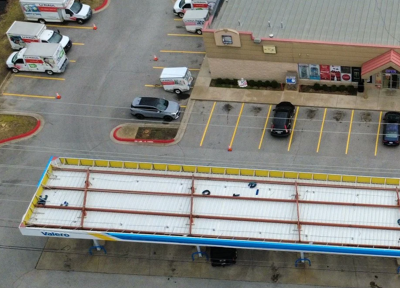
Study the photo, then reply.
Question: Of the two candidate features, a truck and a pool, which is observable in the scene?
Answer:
truck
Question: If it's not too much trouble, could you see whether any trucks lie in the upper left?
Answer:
Yes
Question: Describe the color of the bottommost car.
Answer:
black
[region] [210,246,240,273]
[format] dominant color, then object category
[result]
black car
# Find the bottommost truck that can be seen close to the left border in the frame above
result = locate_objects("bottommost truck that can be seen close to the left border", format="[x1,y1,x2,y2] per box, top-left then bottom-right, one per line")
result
[5,42,69,76]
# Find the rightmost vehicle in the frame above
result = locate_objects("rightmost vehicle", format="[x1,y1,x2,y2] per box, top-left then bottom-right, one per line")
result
[381,111,400,147]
